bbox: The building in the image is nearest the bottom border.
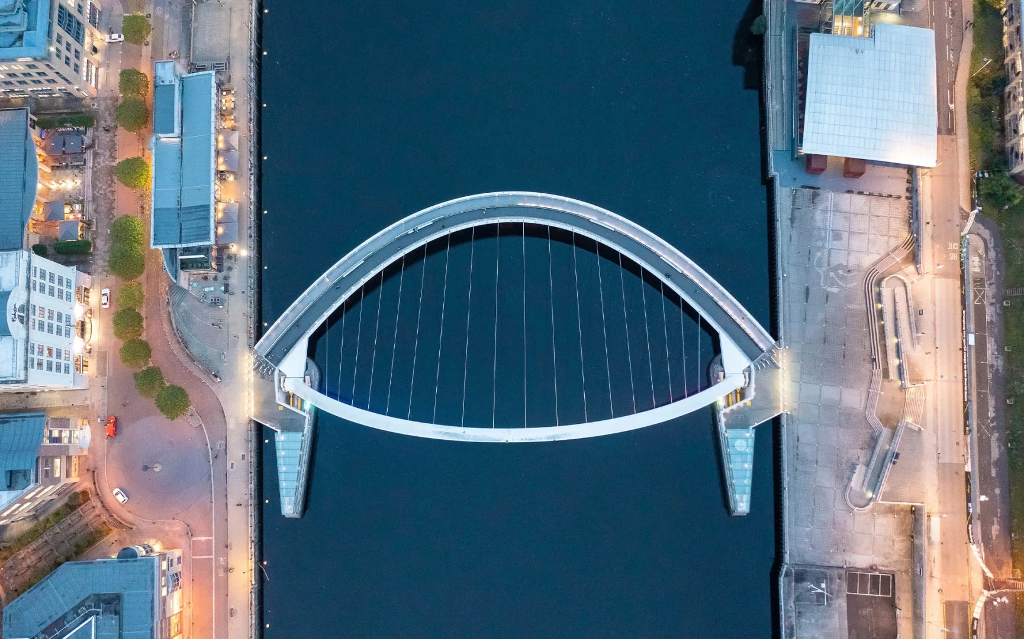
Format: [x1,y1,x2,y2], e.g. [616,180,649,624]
[1,540,184,639]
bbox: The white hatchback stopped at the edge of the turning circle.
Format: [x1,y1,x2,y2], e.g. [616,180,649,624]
[111,486,128,506]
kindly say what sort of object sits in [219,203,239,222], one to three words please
umbrella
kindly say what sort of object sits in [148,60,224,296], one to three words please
building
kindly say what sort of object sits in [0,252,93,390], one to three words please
building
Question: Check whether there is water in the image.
Yes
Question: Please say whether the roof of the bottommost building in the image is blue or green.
blue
